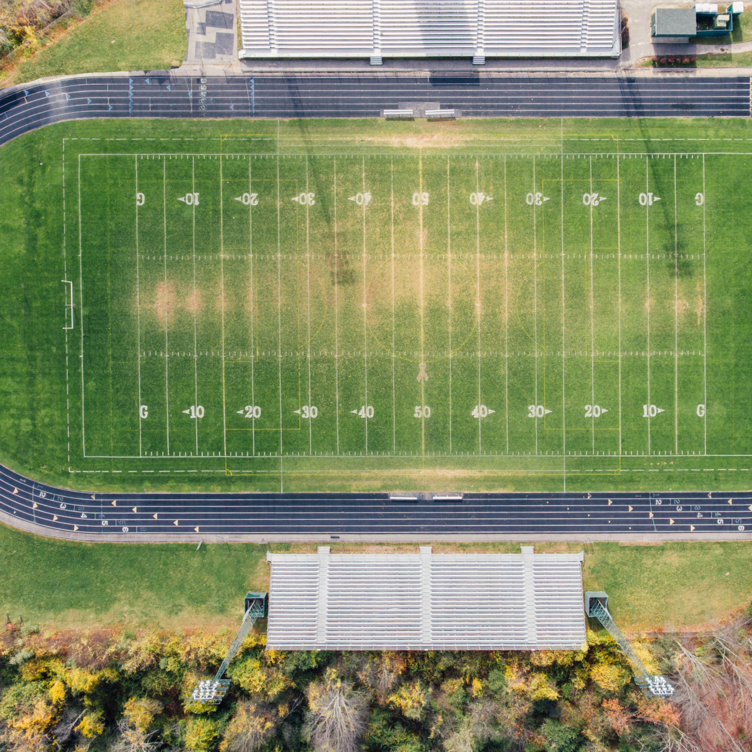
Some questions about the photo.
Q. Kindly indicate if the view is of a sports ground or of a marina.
sports ground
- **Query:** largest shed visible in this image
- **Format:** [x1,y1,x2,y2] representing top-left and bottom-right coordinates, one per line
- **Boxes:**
[653,8,697,39]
